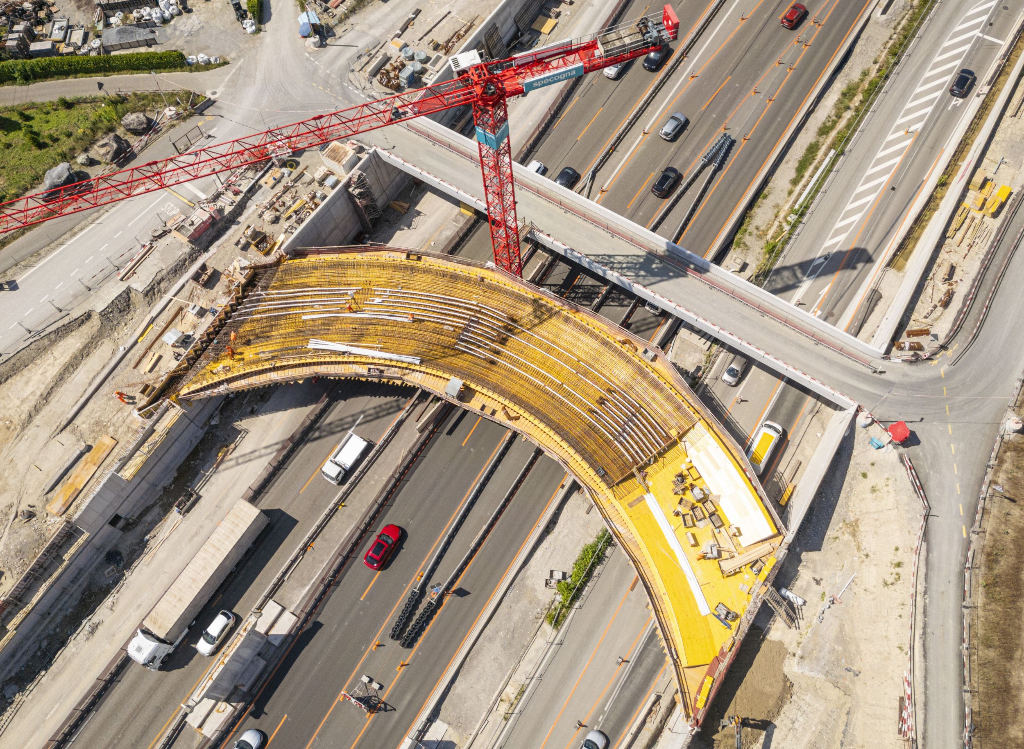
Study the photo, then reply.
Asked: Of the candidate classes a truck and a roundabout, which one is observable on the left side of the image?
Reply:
truck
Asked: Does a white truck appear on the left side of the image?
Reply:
Yes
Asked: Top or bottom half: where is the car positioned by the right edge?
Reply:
top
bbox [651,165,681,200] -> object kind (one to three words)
car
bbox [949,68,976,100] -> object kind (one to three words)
car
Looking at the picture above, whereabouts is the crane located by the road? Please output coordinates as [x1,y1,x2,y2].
[0,0,691,282]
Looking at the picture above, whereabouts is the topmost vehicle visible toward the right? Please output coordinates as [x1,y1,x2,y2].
[781,2,805,29]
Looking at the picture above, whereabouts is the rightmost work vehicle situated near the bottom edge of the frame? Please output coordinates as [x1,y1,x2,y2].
[706,693,736,749]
